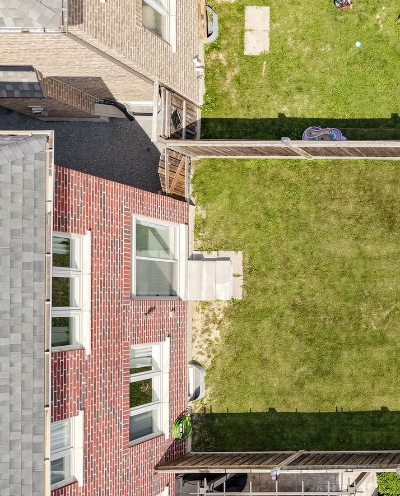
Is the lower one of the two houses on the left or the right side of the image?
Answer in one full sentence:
It is on the left.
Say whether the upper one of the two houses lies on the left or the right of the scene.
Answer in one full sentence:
The upper one of the two houses is on the left side of the image.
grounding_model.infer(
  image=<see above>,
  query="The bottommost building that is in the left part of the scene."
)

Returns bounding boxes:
[0,131,192,496]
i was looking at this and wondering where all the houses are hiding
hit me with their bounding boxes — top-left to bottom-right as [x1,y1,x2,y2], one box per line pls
[0,131,192,496]
[0,0,204,125]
